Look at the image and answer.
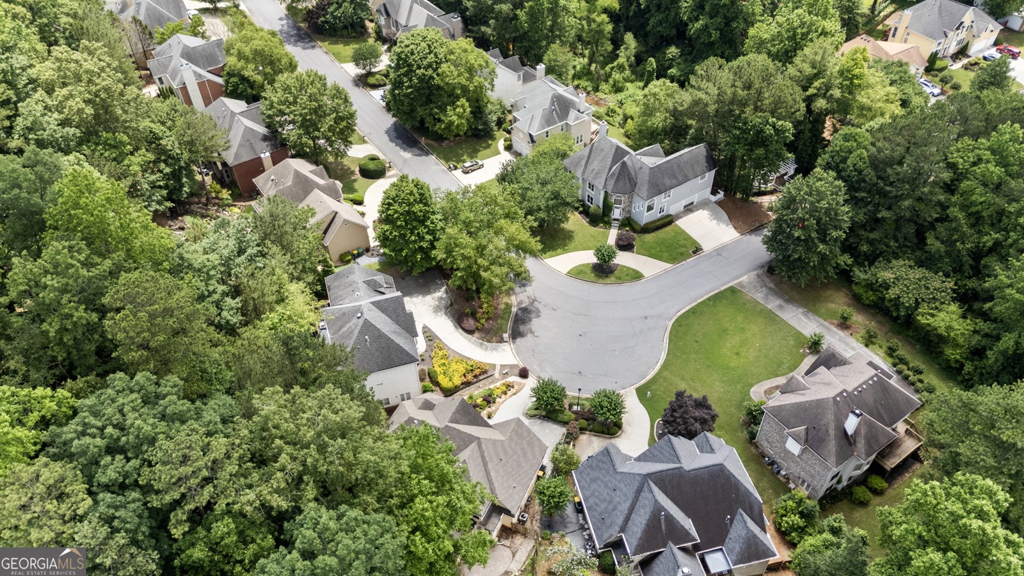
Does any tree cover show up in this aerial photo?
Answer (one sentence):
Yes, tree cover can be seen from above here.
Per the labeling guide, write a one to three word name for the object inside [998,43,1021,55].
vehicle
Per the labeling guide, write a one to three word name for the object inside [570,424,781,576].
house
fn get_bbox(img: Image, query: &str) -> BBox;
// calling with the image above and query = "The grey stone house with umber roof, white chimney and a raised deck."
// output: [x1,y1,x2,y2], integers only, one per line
[753,339,923,497]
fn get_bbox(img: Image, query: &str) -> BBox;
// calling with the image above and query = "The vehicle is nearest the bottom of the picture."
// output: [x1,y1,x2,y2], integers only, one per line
[460,158,485,172]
